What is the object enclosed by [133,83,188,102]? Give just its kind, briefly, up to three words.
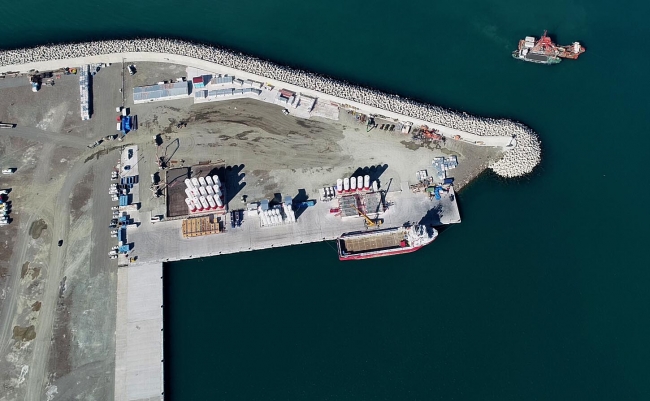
shed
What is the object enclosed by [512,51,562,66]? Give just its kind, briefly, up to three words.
ship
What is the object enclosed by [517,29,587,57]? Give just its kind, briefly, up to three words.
ship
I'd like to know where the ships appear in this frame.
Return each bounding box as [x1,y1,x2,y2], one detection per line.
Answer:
[517,29,587,57]
[512,51,562,66]
[338,223,438,261]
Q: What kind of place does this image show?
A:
port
